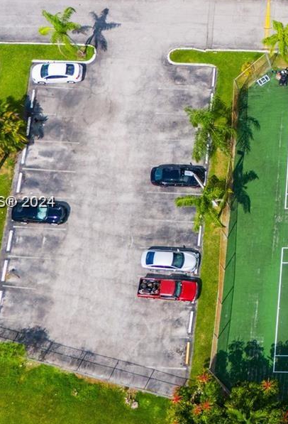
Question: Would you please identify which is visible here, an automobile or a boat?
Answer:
automobile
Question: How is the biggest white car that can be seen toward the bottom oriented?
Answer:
horizontally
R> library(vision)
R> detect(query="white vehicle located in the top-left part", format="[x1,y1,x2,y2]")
[30,61,84,84]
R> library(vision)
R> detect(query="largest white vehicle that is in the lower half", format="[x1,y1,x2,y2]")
[140,249,199,274]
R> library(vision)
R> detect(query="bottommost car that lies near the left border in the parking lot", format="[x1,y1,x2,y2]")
[10,201,69,225]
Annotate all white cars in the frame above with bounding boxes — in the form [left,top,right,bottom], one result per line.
[140,249,199,274]
[30,61,84,84]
